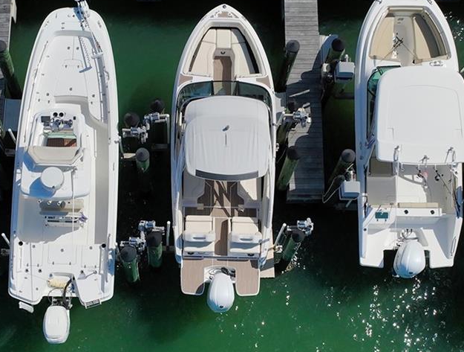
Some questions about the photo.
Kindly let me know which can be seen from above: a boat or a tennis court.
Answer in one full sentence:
The one in the frame is a boat.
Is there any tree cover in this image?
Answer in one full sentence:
No, the scene doesn't show any tree cover.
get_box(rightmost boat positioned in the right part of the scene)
[353,0,464,280]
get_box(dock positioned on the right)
[284,0,324,203]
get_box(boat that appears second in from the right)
[169,2,277,313]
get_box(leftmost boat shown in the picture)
[7,0,121,344]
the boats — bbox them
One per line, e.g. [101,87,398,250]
[169,2,277,313]
[7,0,121,344]
[353,0,464,280]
